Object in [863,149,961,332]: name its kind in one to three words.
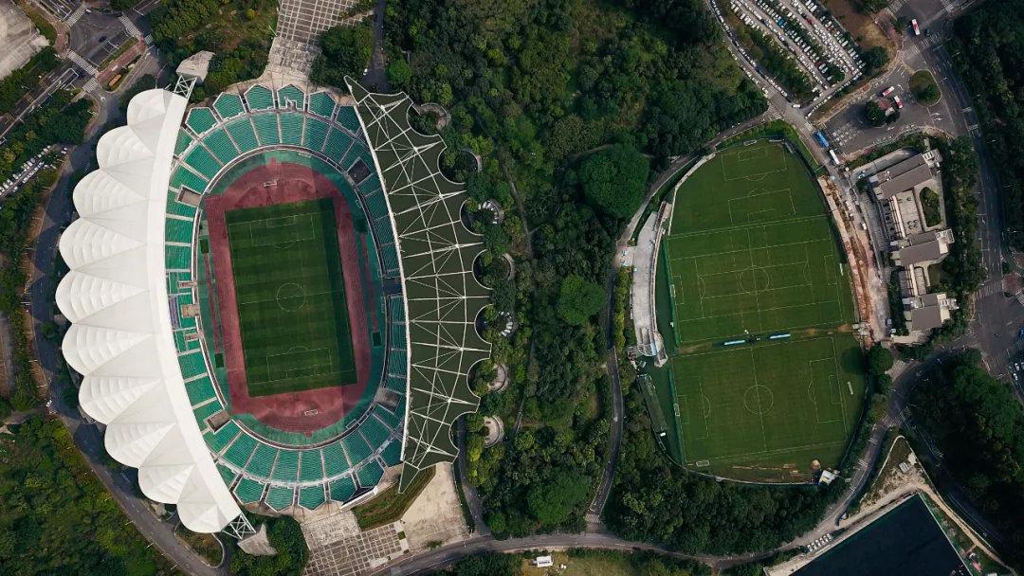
building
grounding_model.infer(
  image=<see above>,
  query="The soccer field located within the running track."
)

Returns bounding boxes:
[225,196,358,397]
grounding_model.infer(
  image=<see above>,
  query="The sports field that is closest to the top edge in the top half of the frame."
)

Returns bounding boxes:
[671,141,827,239]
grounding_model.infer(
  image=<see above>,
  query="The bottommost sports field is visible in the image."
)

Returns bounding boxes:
[671,335,849,464]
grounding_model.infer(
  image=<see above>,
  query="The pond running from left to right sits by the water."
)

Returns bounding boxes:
[783,493,973,576]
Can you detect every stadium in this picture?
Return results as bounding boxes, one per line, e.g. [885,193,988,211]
[53,50,495,557]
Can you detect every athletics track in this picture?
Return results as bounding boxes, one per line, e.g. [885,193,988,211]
[196,149,384,444]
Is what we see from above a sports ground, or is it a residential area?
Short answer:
sports ground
